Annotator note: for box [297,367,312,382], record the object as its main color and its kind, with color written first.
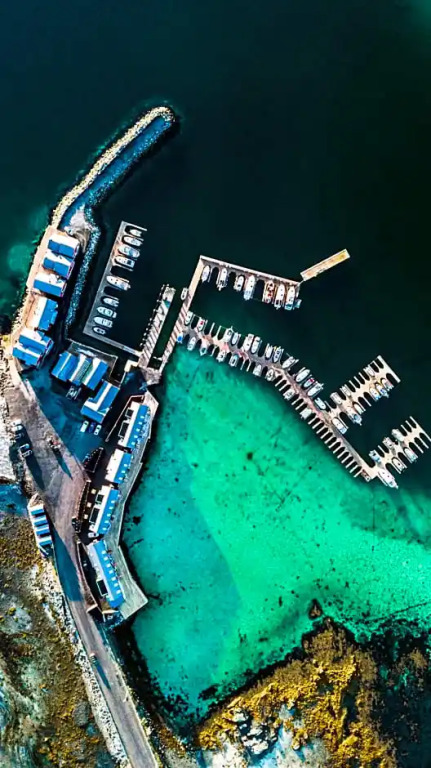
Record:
white boat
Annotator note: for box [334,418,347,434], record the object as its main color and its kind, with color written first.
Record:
white boat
